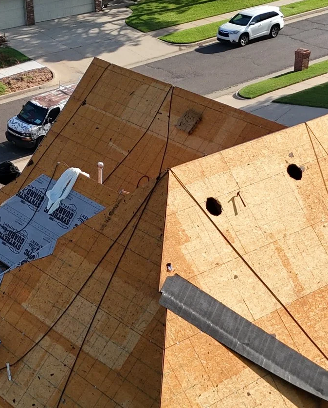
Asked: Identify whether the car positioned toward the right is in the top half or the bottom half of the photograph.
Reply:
top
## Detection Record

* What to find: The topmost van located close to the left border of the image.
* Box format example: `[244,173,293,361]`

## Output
[0,70,82,147]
